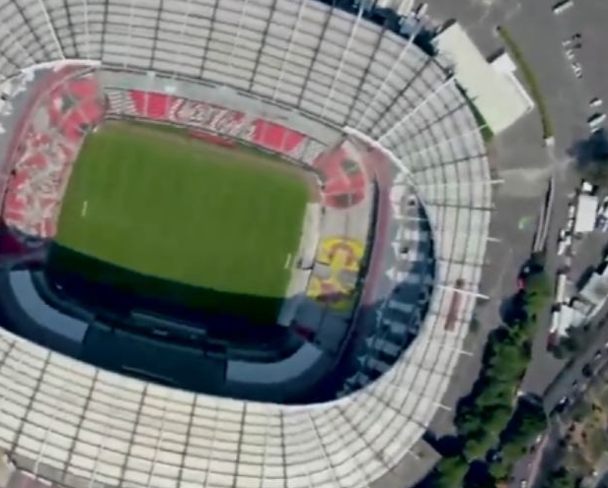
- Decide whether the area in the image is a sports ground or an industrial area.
sports ground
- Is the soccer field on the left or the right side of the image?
left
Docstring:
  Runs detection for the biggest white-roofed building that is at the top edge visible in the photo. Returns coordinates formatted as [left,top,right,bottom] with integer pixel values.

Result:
[427,21,537,137]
